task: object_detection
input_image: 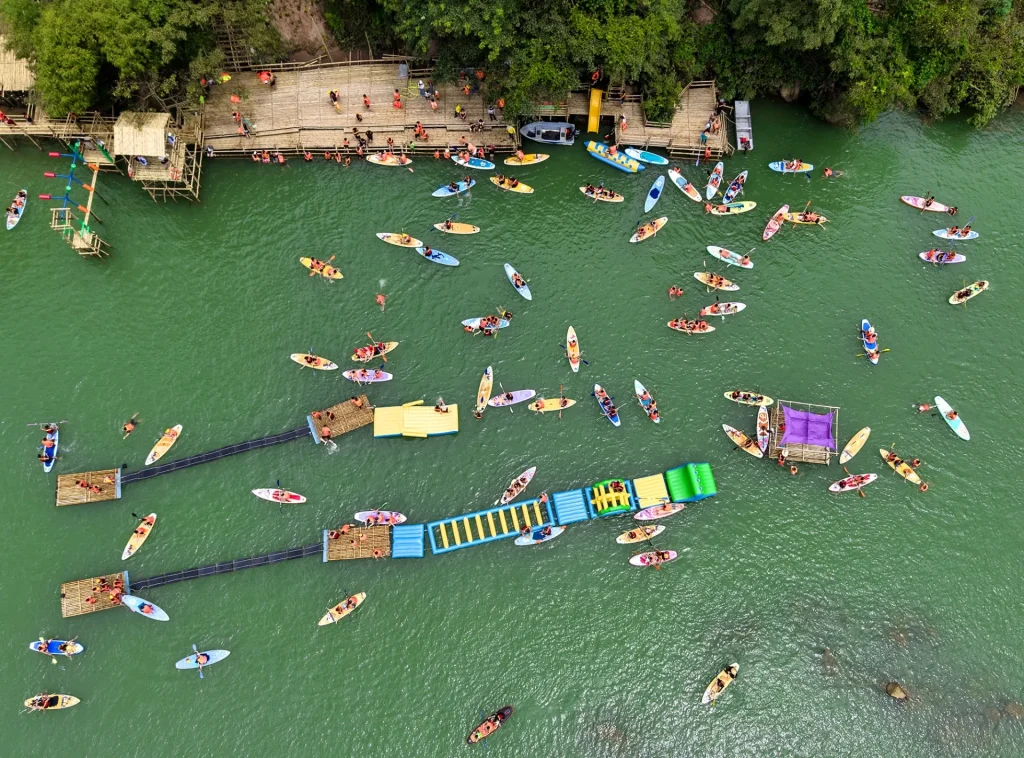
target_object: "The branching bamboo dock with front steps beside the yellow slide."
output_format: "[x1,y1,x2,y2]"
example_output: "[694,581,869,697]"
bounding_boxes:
[540,79,735,160]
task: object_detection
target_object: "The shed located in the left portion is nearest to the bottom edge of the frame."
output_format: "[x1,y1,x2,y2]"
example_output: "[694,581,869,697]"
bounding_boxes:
[109,110,204,202]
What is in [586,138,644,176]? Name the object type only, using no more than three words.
boat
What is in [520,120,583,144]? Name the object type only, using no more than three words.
boat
